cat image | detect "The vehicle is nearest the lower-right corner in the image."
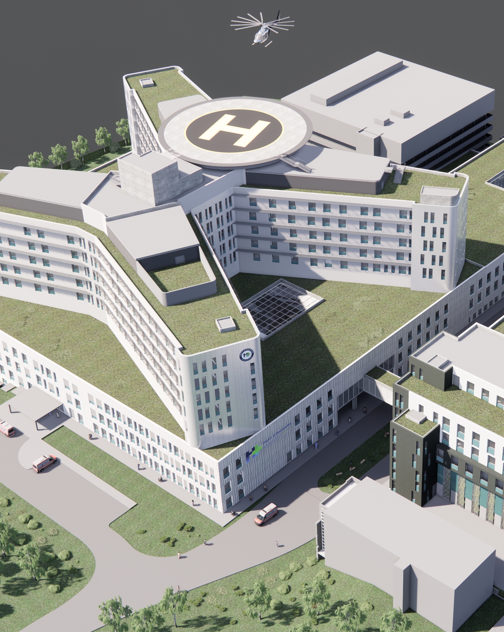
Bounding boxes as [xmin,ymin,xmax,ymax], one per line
[254,504,282,528]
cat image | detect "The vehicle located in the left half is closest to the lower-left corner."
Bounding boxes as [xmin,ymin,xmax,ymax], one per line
[30,457,57,477]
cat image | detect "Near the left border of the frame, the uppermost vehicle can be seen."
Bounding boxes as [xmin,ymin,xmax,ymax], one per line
[0,421,17,440]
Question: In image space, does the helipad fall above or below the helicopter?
below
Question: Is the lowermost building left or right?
right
